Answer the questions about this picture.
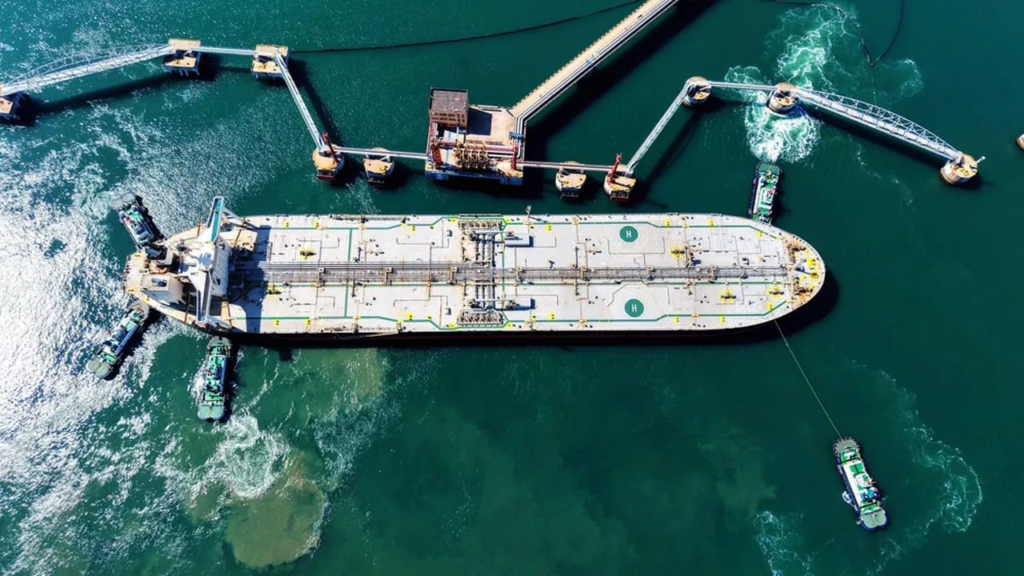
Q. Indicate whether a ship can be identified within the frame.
Yes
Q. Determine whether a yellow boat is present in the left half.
No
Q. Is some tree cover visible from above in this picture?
No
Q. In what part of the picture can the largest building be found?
top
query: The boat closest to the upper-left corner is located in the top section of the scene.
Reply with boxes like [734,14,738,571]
[111,189,164,247]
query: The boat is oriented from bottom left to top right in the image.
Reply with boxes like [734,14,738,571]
[88,304,147,378]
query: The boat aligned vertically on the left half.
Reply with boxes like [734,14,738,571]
[200,337,232,420]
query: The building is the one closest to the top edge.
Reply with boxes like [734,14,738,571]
[430,90,470,127]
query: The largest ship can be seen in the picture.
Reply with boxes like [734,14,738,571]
[120,195,828,340]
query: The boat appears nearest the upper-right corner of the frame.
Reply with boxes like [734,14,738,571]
[747,162,781,225]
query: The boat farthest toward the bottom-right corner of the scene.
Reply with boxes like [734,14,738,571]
[832,435,889,532]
